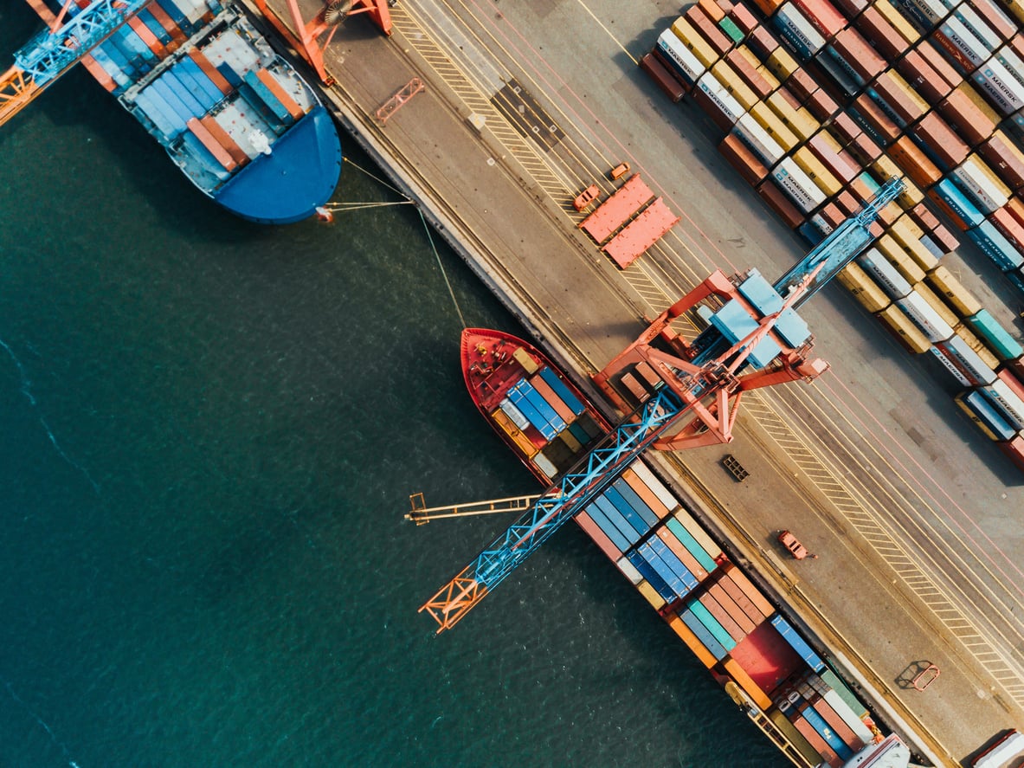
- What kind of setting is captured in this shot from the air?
port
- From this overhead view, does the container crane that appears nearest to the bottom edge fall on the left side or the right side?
right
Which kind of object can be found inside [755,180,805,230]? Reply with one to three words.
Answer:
shipping container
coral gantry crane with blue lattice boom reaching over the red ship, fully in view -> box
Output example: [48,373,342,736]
[419,170,913,636]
